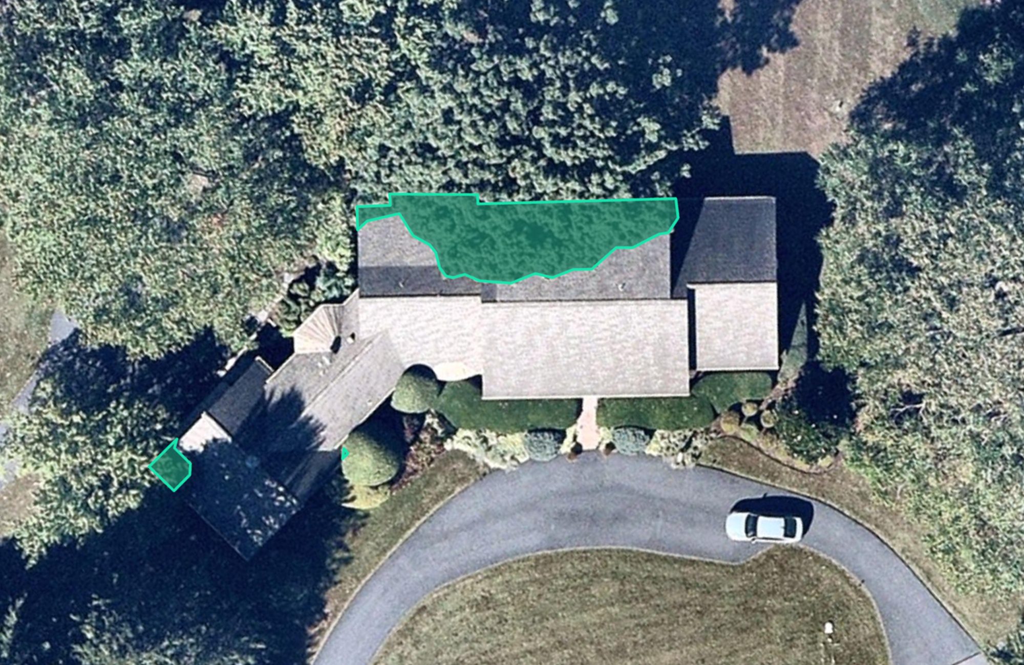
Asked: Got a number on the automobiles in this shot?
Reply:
one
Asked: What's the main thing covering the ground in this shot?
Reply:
trees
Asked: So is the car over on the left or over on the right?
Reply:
right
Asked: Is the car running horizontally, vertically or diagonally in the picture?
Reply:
horizontally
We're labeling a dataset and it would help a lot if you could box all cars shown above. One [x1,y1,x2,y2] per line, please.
[725,510,803,544]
